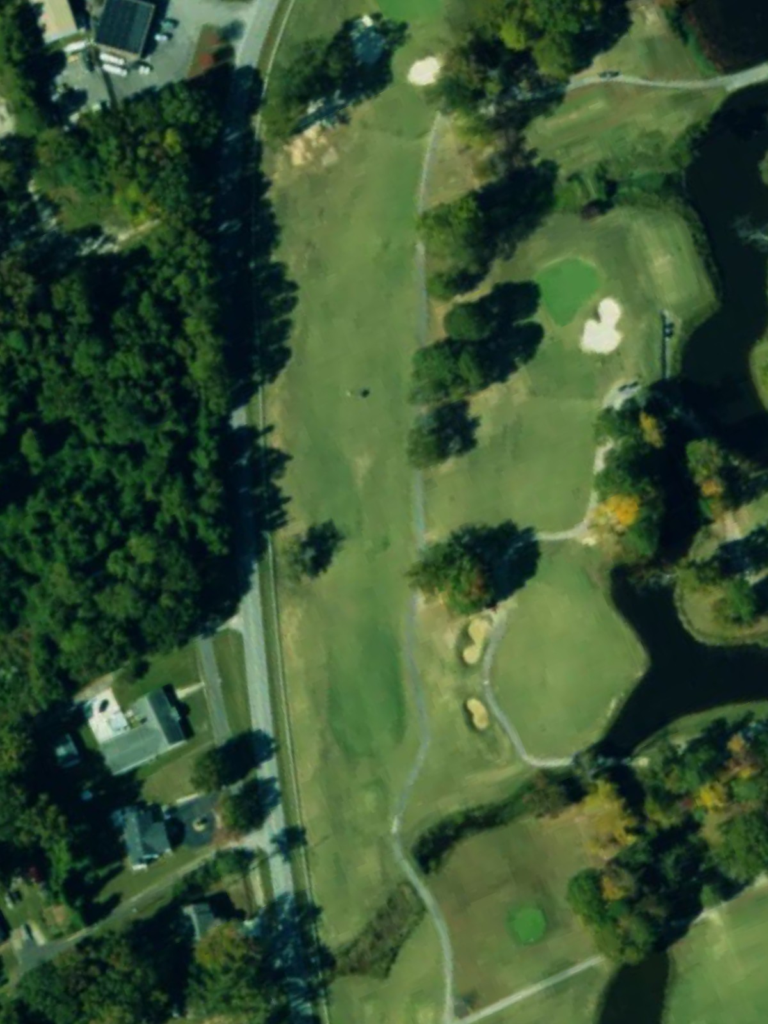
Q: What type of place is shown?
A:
golf course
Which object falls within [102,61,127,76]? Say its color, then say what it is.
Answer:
white vehicle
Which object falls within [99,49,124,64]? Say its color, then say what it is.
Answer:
white vehicle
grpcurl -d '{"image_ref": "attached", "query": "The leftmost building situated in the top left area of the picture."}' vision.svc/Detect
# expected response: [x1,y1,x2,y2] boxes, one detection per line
[37,0,79,42]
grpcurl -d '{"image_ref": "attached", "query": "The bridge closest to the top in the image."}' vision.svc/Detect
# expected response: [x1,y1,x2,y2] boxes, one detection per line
[721,64,768,90]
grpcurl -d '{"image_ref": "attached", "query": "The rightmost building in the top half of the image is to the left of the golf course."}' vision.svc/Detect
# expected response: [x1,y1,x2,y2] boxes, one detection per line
[93,0,155,58]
